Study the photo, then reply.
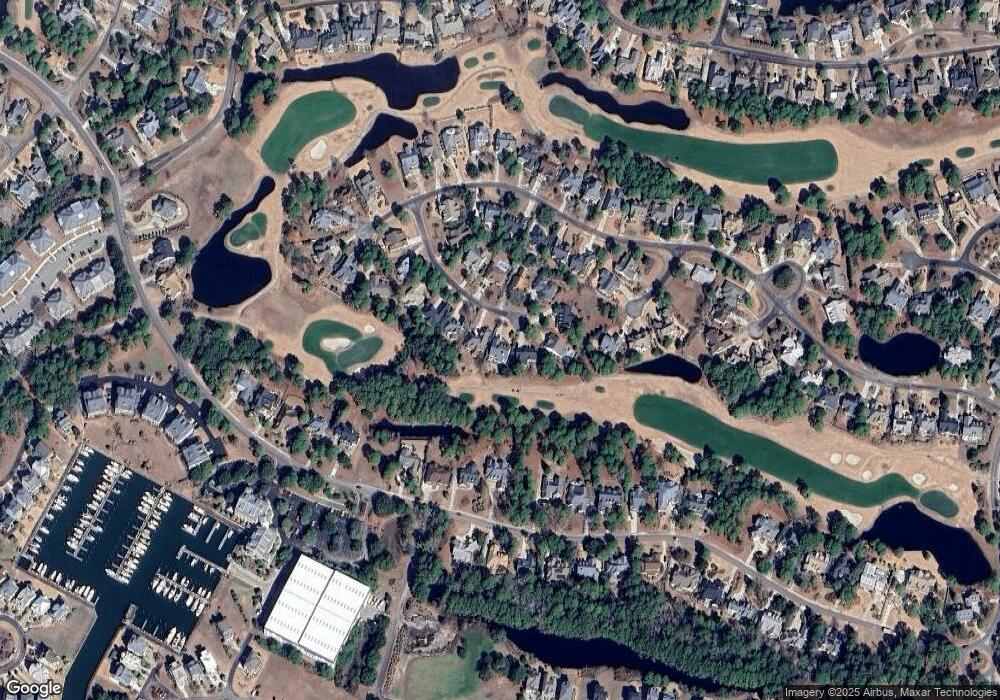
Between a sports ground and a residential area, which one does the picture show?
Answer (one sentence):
What you see here is a residential area.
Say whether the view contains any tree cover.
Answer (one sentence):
Yes, there is tree cover in the image.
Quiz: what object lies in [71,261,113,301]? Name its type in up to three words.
building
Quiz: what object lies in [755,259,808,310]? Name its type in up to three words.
roundabout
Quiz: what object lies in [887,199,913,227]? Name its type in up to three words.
house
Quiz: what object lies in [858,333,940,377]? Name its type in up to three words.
pond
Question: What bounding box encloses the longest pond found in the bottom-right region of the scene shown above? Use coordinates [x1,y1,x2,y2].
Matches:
[862,502,990,586]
